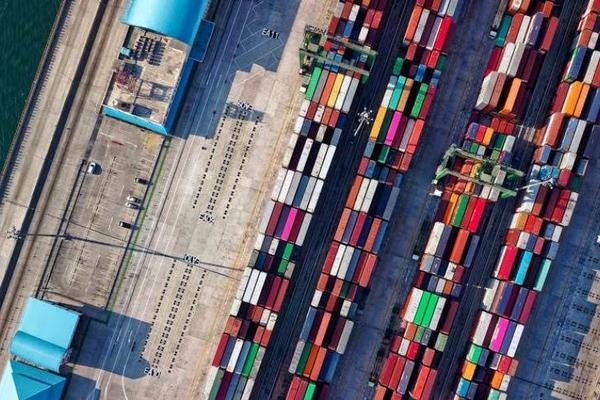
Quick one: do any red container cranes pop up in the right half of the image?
No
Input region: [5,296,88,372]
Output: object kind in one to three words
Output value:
shed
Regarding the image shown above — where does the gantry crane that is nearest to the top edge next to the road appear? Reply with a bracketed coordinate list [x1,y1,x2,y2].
[297,19,380,88]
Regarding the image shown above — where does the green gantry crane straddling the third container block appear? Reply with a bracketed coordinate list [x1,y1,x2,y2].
[434,147,527,201]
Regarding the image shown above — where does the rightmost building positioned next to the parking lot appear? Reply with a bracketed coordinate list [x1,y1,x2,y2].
[103,0,219,137]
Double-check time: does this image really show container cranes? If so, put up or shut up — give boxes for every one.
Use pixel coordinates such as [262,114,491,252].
[434,147,527,201]
[297,19,380,88]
